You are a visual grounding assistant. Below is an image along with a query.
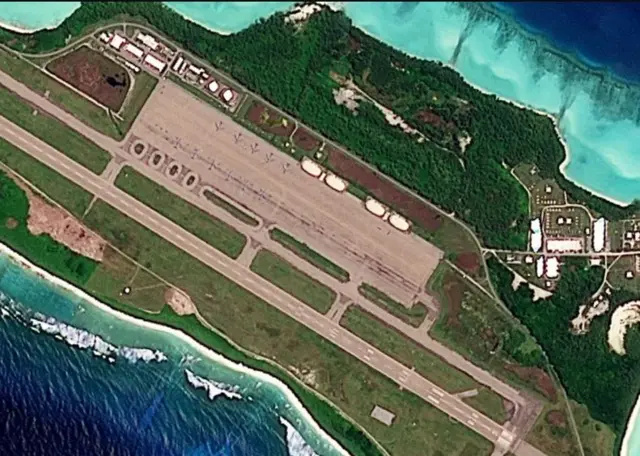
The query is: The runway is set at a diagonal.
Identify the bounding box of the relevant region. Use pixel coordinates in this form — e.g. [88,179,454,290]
[0,117,514,450]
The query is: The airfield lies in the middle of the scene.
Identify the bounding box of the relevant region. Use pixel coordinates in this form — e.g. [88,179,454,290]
[0,71,544,456]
